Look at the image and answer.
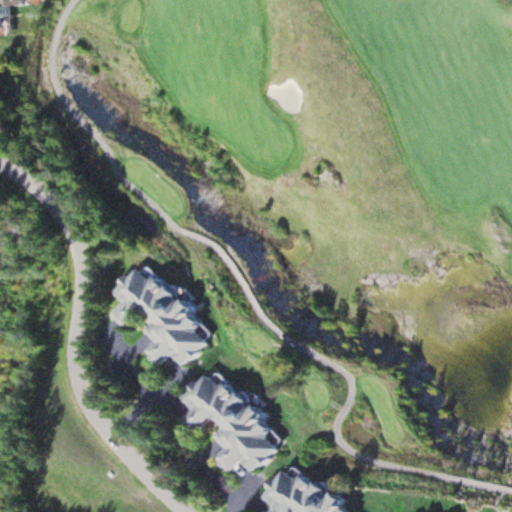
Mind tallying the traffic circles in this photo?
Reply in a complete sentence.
The picture shows no traffic circles.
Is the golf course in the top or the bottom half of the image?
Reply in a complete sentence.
Seen from above, the golf course lies in the top half of the view.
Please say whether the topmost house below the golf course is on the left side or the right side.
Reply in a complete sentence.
The topmost house below the golf course appears in the left half of the scene.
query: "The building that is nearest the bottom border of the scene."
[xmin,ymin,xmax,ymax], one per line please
[256,466,351,512]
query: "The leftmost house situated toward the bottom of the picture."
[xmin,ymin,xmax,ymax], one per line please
[110,268,211,368]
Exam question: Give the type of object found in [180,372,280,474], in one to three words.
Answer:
house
